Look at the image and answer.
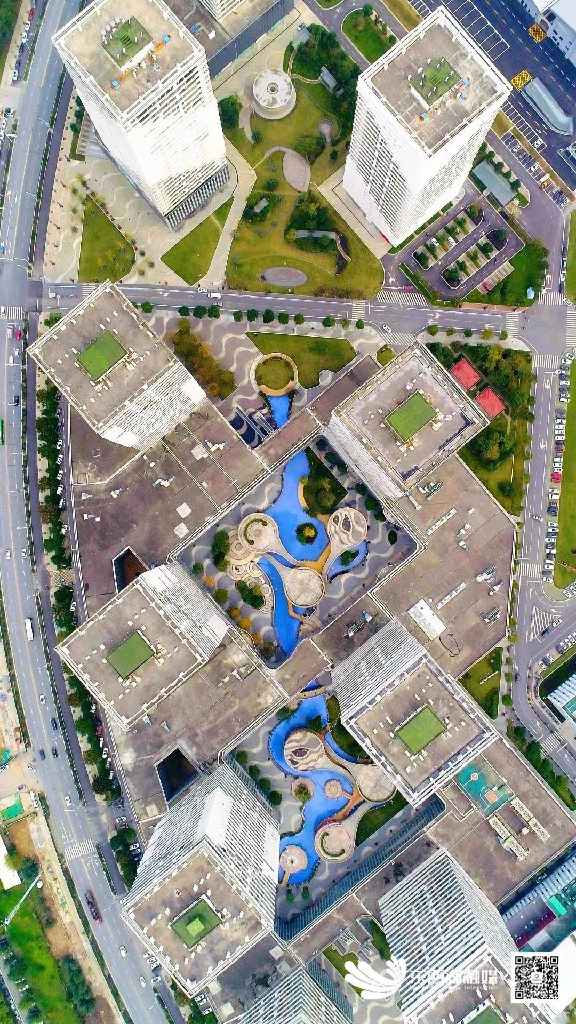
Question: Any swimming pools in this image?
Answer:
Yes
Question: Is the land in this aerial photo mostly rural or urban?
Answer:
urban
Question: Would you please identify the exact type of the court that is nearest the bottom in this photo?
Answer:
basketball court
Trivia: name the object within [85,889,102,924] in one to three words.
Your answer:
vehicle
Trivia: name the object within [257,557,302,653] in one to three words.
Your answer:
swimming pool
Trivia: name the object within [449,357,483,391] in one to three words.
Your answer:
house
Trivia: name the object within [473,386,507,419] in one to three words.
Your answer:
house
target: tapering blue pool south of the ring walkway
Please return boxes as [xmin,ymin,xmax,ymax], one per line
[261,391,296,428]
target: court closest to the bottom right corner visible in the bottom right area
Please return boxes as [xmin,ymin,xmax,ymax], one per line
[451,756,513,816]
